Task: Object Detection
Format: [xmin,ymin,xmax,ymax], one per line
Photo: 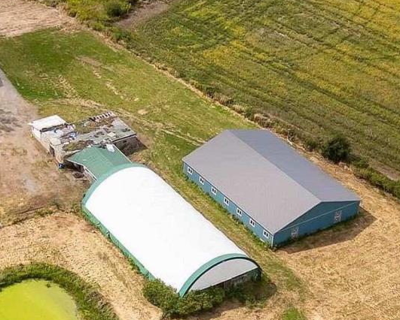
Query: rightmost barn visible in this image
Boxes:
[182,128,362,246]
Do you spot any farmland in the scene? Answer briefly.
Yes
